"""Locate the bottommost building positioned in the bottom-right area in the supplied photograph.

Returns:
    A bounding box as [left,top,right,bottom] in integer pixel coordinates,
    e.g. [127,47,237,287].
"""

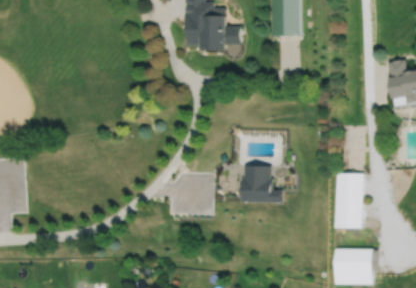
[333,245,376,284]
